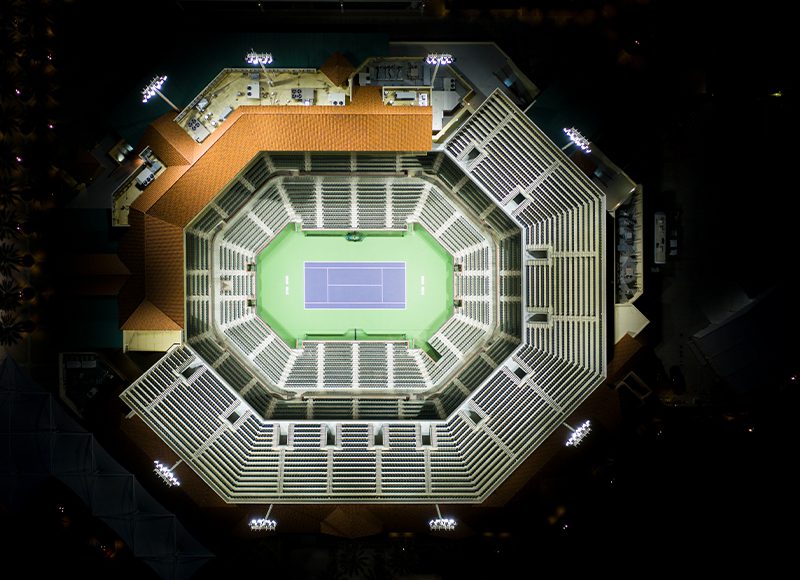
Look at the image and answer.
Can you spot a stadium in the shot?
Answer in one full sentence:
Yes, the frame does contain a stadium.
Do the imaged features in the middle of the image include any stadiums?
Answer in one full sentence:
Yes, there is a stadium in the middle of the image.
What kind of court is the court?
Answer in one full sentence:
It looks like the court is a tennis court.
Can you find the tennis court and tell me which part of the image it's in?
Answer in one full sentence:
The tennis court sits in the center section of the image.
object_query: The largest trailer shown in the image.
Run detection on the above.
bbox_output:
[648,208,666,264]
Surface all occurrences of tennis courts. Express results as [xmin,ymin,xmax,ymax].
[255,218,455,360]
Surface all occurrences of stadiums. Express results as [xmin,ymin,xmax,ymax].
[116,85,607,503]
